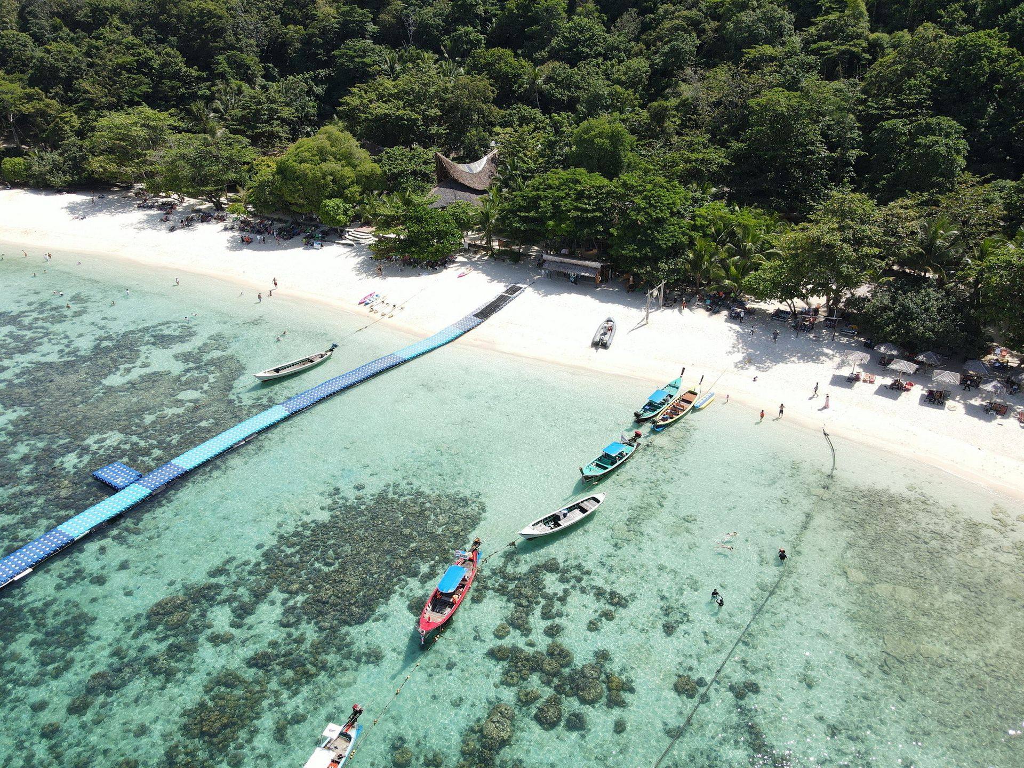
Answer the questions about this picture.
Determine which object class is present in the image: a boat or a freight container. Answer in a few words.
boat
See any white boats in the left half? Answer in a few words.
Yes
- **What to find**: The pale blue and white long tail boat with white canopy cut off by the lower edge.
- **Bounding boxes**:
[301,684,378,768]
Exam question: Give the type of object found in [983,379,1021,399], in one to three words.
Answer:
umbrella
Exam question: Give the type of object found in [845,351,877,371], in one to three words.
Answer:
umbrella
